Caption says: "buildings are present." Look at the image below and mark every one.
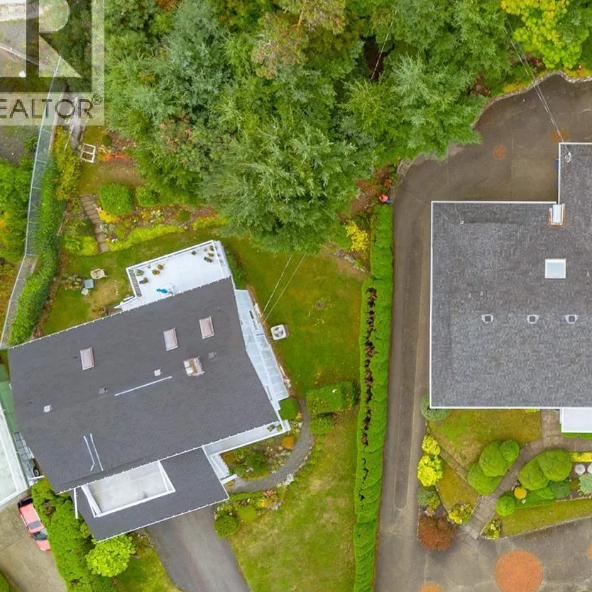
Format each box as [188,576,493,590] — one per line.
[429,142,592,435]
[8,238,304,542]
